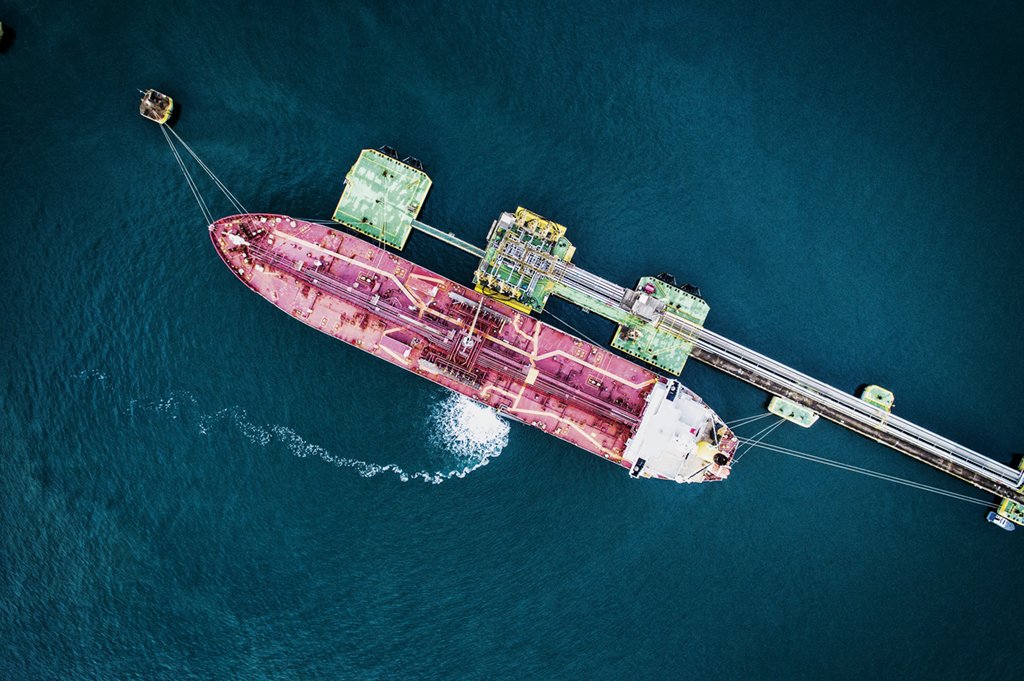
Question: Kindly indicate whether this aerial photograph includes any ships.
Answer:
Yes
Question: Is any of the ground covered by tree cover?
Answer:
No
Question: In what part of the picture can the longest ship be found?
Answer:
center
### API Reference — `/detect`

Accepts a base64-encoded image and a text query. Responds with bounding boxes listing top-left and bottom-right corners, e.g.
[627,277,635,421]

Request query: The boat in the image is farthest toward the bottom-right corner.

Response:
[987,512,1015,531]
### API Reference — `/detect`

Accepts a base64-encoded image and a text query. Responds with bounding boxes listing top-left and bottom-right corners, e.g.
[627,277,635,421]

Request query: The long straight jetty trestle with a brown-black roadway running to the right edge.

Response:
[689,333,1024,507]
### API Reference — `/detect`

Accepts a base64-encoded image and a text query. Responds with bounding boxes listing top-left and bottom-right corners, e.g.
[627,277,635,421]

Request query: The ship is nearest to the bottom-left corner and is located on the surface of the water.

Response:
[208,213,741,484]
